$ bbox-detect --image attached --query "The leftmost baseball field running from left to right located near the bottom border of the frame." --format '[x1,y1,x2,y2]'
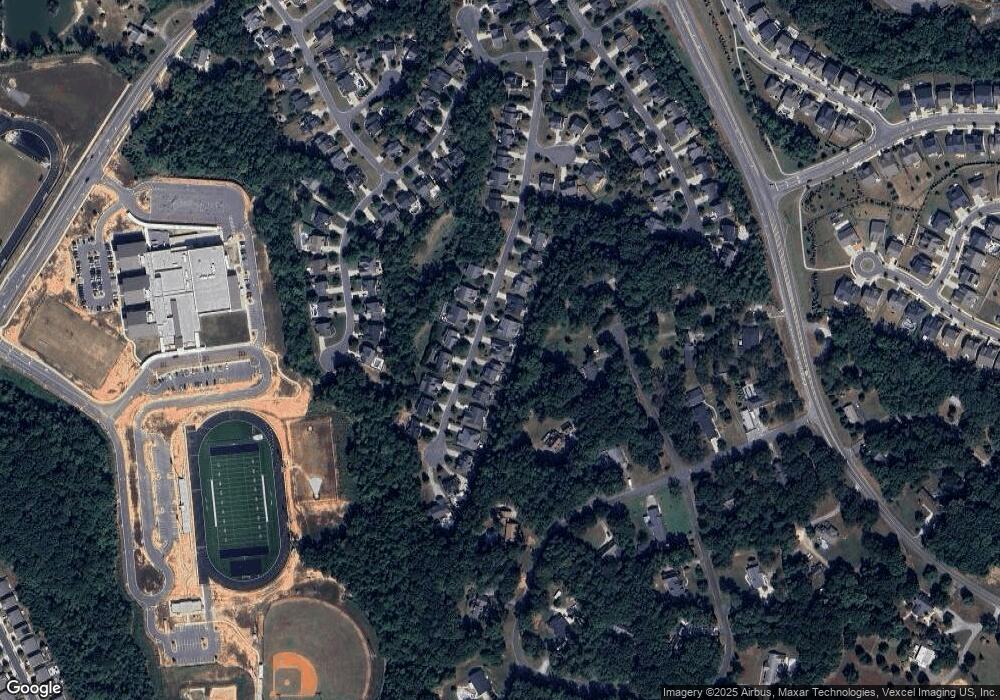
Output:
[156,665,256,700]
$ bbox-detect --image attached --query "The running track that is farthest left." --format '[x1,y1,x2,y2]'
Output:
[0,118,62,277]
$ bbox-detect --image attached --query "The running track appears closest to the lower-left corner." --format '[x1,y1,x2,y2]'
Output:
[187,408,291,592]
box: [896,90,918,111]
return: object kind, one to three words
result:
house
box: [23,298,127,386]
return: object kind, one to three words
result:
sports field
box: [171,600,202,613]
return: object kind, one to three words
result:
building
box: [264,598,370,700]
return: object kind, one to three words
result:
baseball field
